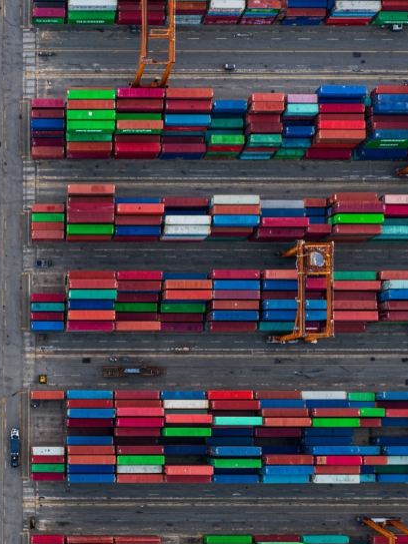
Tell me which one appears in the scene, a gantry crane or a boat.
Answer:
gantry crane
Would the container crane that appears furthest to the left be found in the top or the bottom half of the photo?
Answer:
top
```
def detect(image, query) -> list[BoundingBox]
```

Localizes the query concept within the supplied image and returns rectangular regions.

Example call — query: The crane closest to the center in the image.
[271,240,337,340]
